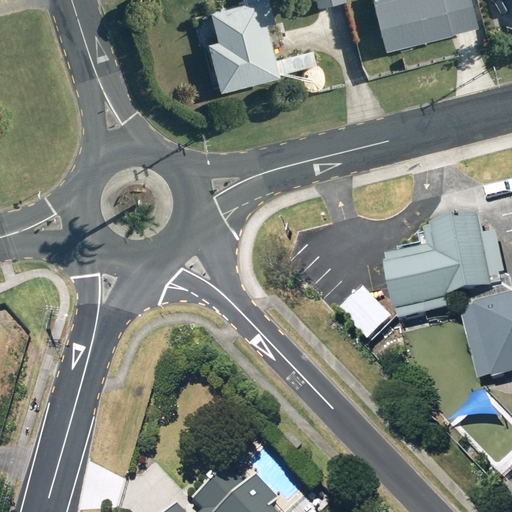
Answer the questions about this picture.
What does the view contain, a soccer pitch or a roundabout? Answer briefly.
roundabout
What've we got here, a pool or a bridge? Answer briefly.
pool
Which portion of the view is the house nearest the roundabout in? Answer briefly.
top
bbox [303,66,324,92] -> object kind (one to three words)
umbrella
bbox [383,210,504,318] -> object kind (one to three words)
building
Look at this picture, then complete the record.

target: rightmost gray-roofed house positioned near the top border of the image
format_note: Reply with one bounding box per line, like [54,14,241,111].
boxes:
[376,0,479,54]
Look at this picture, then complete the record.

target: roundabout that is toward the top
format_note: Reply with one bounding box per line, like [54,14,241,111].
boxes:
[100,167,174,240]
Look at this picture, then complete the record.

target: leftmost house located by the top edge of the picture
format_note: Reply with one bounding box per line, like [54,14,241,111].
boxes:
[208,0,282,94]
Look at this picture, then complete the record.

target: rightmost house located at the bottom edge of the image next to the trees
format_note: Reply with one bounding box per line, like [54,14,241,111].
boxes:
[190,472,278,512]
